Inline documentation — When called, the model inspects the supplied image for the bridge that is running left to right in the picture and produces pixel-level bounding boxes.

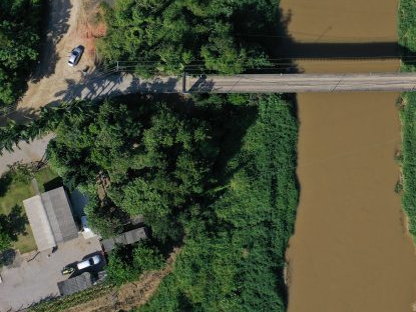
[182,72,416,95]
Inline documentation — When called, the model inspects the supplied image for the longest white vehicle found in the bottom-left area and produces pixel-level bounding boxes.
[74,256,99,272]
